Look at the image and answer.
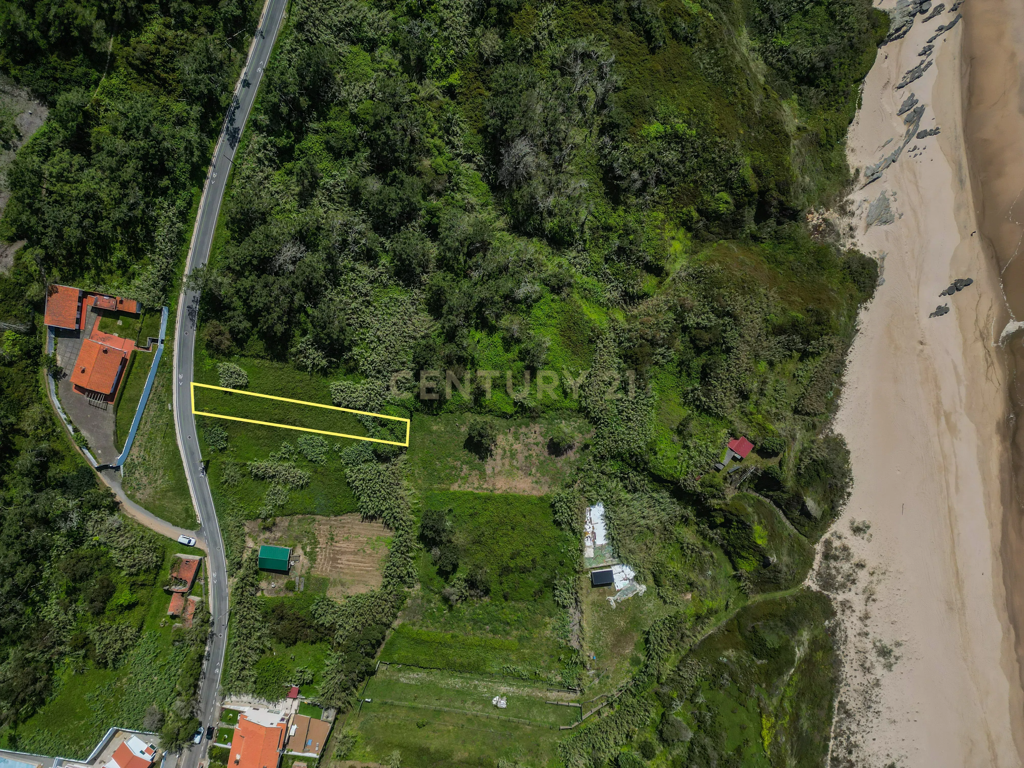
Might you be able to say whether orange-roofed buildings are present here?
Yes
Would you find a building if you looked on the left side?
Yes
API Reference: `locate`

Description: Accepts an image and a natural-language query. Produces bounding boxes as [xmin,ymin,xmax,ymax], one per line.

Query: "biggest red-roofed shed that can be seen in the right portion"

[728,436,754,458]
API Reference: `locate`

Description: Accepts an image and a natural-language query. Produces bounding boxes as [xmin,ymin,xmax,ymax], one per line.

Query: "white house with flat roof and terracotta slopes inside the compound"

[103,733,161,768]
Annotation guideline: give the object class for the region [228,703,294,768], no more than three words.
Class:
house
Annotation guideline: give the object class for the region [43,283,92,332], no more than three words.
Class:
shed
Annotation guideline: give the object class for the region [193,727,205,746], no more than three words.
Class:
vehicle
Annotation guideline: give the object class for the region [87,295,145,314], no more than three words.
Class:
building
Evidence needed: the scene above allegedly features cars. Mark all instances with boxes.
[204,725,215,743]
[193,727,205,746]
[177,536,196,546]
